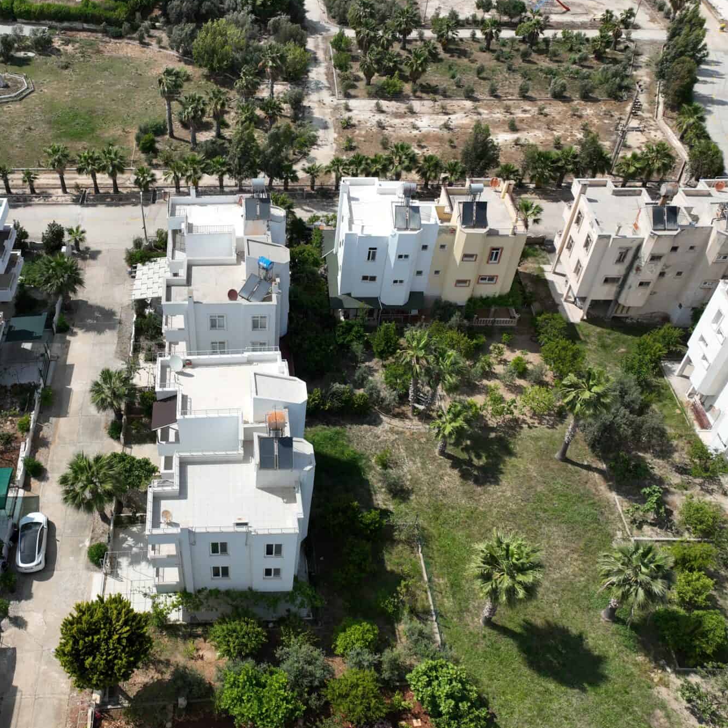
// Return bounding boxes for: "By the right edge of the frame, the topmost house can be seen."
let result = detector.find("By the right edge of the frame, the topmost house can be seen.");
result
[533,179,728,332]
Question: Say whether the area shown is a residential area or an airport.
residential area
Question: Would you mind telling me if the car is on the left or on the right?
left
